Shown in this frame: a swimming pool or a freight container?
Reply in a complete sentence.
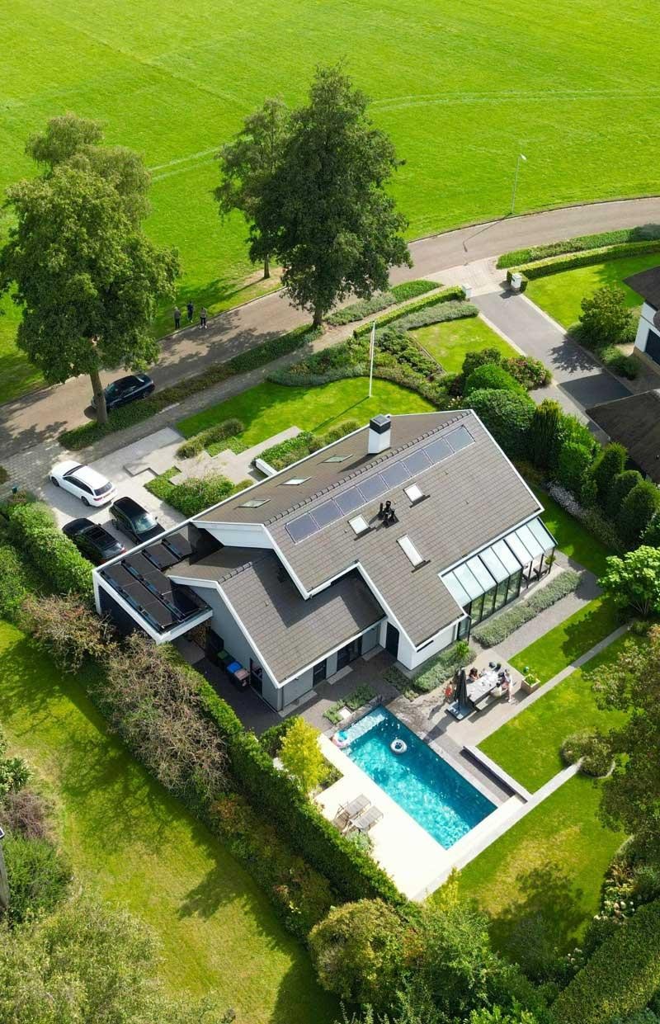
The one in the frame is a swimming pool.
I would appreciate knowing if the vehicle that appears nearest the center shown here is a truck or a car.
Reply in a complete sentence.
I'd say the vehicle that appears nearest the center is a car.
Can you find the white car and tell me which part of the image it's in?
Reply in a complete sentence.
The white car is located in the left region of the scene.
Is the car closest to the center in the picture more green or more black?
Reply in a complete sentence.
The car closest to the center is black.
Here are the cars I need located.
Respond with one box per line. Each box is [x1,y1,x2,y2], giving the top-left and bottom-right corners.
[62,514,128,566]
[49,463,115,510]
[102,377,158,415]
[108,496,165,547]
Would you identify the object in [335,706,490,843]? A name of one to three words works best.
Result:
swimming pool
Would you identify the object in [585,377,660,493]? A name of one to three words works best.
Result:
house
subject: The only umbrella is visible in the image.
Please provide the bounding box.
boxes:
[445,670,475,722]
